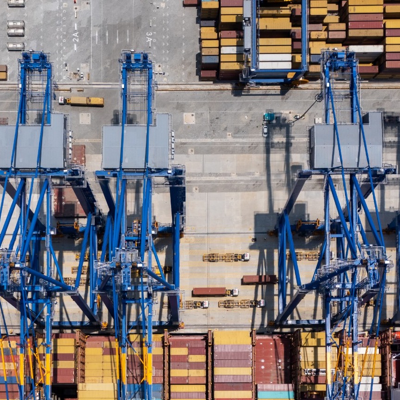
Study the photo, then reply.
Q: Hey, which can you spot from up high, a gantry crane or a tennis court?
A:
gantry crane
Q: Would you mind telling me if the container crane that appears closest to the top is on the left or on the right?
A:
right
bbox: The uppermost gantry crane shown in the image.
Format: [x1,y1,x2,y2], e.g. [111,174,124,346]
[241,0,319,94]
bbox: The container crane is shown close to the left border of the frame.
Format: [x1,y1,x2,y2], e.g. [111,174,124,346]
[0,41,107,400]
